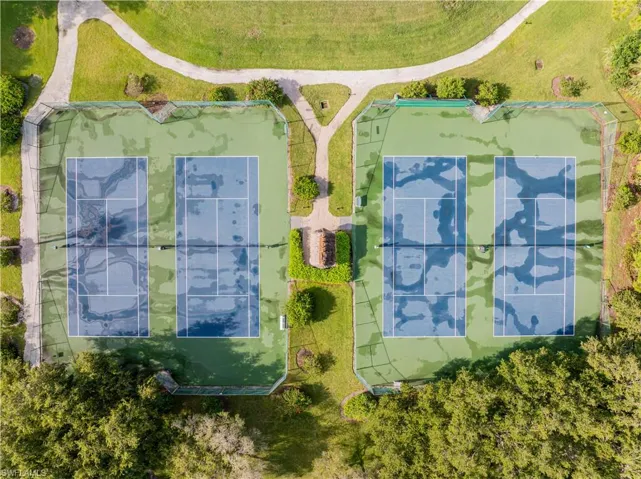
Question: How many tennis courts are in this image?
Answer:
4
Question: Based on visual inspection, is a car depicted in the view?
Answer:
No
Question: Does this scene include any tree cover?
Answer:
Yes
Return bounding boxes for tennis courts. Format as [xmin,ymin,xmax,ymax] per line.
[66,157,150,337]
[383,156,467,337]
[175,157,260,337]
[494,157,577,336]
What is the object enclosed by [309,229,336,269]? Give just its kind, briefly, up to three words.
shed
